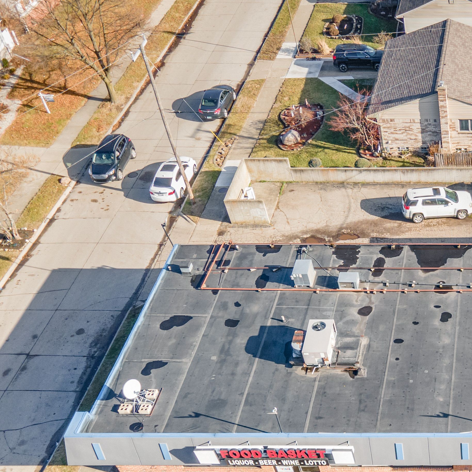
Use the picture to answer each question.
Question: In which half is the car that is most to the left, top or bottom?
top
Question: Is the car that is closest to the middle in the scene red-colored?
No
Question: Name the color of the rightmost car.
white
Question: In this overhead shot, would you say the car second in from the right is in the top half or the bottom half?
top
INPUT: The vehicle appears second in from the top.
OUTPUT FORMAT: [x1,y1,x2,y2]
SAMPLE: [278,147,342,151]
[198,85,238,119]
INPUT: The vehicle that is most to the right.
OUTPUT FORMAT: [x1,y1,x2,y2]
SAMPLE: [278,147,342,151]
[401,188,472,226]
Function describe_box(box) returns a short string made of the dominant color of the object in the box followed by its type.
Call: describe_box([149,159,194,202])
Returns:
white car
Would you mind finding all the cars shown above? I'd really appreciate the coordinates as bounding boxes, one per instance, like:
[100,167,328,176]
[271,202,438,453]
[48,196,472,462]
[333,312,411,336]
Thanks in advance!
[401,188,472,226]
[198,85,238,119]
[91,131,135,179]
[149,159,194,202]
[333,44,383,71]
